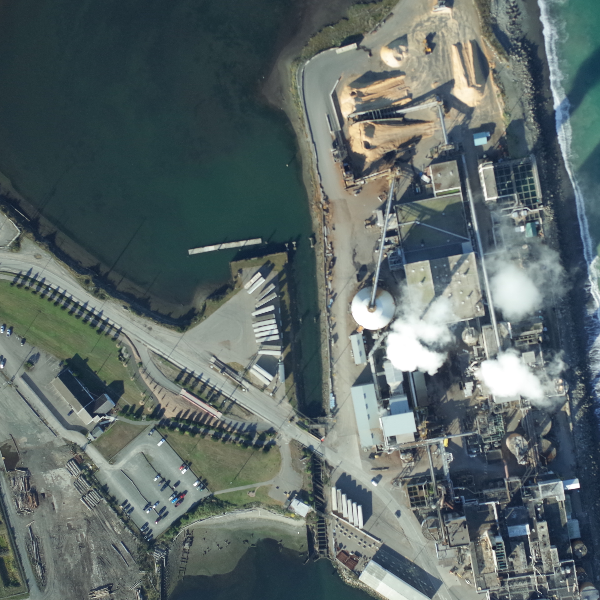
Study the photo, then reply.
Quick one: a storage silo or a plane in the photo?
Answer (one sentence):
I can see a storage silo in this picture.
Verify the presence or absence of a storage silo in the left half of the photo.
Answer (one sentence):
No, no storage silo appears in the left half of the photo.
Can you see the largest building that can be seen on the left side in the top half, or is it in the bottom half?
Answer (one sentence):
It is in the bottom half that the largest building that can be seen on the left side appears.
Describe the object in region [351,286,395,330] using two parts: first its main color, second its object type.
white silo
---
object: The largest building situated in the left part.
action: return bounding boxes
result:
[51,369,95,415]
